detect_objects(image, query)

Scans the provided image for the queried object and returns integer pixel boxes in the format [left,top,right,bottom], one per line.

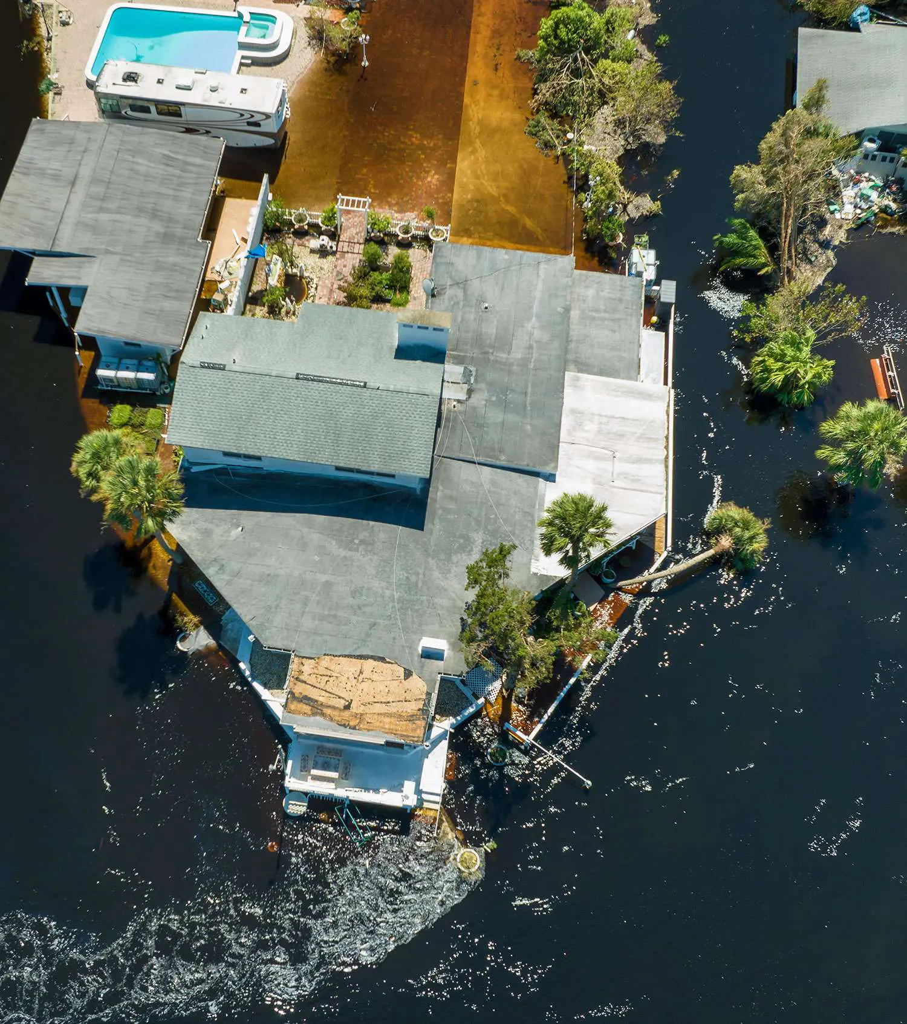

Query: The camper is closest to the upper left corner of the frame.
[97,54,296,159]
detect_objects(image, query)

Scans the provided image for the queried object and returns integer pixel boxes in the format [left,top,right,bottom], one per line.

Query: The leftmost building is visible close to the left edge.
[0,118,229,371]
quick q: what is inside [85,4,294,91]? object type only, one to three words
swimming pool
